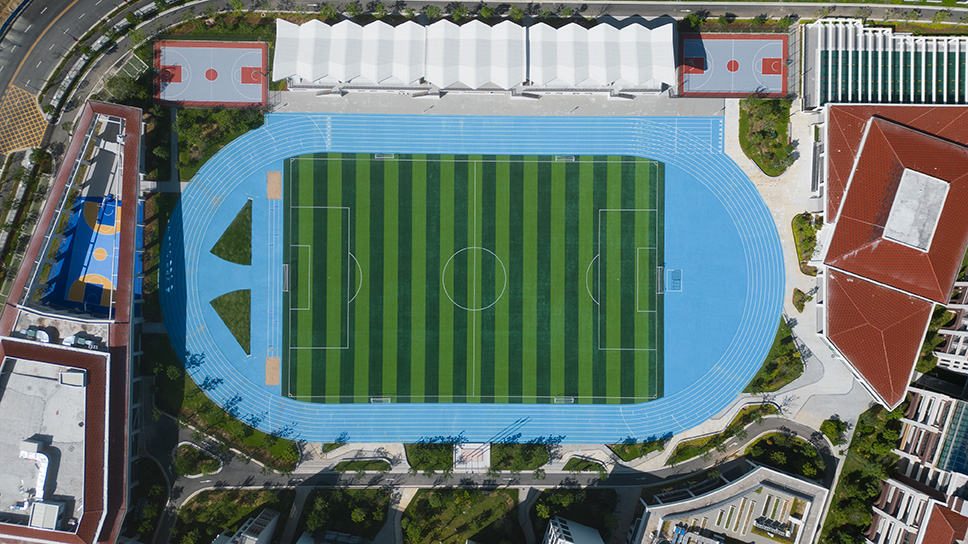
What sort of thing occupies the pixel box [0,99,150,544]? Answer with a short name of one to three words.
building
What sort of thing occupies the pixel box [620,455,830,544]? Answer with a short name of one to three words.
building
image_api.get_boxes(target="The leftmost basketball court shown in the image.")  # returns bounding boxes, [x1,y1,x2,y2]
[69,202,119,307]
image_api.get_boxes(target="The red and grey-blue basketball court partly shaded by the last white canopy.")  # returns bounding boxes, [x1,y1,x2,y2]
[679,34,788,97]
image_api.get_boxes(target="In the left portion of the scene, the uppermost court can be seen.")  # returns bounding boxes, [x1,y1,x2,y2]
[153,41,268,106]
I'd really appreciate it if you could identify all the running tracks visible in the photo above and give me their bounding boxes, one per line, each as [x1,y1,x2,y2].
[159,112,784,444]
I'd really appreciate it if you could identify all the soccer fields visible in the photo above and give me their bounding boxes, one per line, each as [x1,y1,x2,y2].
[282,150,666,405]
